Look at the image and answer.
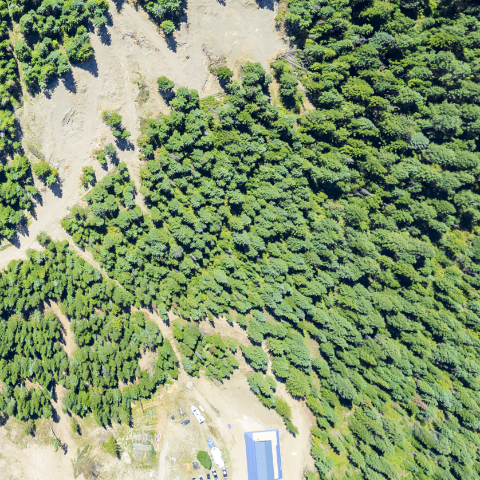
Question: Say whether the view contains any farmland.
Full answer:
No, farmland can't be seen anywhere here.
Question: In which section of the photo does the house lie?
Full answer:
Look in the bottom portion of the view to spot the house.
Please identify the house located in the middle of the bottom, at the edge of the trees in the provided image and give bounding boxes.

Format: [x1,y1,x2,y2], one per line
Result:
[244,427,283,480]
